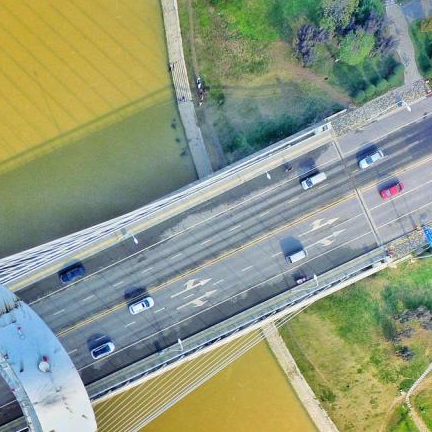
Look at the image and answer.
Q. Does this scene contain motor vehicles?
Yes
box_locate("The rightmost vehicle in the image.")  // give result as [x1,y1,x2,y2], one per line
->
[377,181,404,199]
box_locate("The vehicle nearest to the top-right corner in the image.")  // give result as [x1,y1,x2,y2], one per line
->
[357,150,385,169]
